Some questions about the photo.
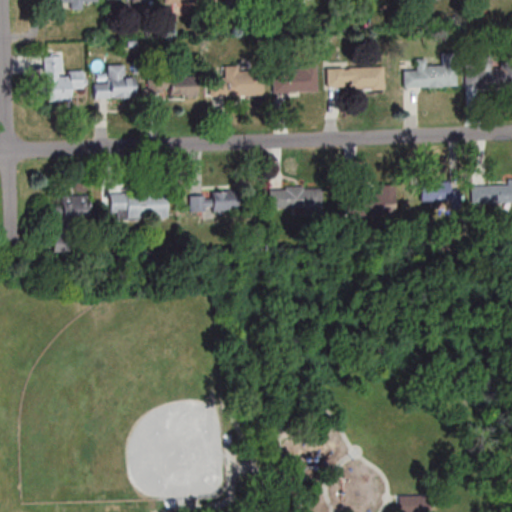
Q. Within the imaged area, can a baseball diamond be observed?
Yes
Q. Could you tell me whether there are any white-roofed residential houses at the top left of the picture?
Yes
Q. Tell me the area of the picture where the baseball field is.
bottom left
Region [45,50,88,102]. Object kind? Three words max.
house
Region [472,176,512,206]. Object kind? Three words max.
house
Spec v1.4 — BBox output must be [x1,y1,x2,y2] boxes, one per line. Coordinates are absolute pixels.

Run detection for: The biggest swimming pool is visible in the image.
[88,58,105,74]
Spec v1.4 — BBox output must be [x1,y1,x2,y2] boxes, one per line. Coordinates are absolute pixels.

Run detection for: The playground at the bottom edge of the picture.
[278,429,385,512]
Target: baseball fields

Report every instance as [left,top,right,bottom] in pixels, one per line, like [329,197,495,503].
[18,301,224,505]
